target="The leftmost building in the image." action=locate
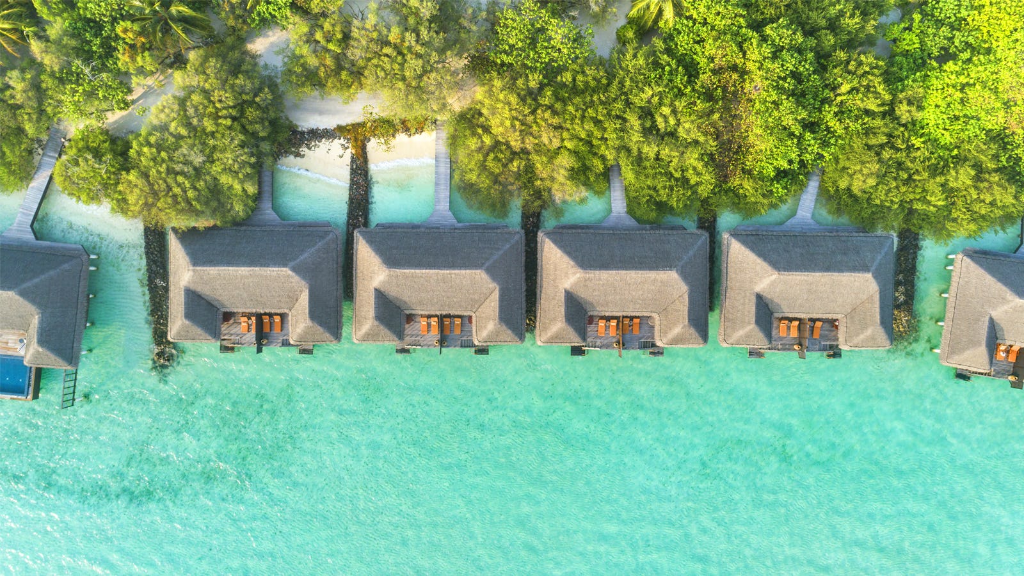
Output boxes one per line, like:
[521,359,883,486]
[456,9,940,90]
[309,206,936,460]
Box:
[0,239,101,369]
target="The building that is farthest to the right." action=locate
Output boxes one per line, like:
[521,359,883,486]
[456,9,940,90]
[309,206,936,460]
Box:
[927,248,1024,391]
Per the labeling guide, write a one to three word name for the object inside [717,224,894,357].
house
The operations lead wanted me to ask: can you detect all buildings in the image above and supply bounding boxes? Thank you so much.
[351,222,527,355]
[0,239,101,369]
[717,224,894,357]
[168,222,344,354]
[927,248,1024,391]
[534,223,711,356]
